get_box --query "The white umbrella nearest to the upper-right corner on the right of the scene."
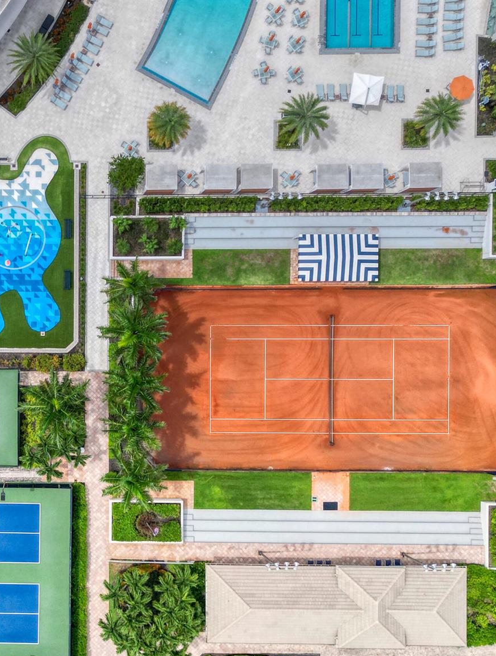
[350,72,384,118]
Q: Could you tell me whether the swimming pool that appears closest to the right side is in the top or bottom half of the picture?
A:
top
